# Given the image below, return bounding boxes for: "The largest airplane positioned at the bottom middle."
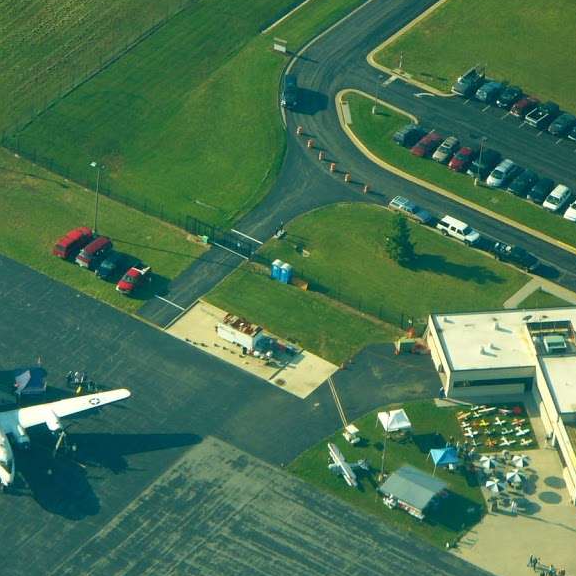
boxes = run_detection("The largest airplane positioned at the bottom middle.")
[323,441,369,485]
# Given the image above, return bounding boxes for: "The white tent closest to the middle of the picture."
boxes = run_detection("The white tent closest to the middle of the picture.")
[375,409,412,437]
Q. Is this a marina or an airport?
airport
